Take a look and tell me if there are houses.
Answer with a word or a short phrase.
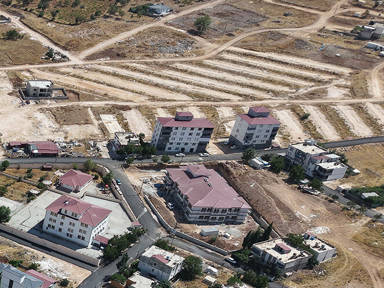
Yes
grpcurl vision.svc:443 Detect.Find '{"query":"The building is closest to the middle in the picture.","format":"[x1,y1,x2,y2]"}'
[152,111,214,152]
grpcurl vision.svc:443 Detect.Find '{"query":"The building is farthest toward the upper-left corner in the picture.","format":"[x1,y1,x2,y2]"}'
[24,80,53,96]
